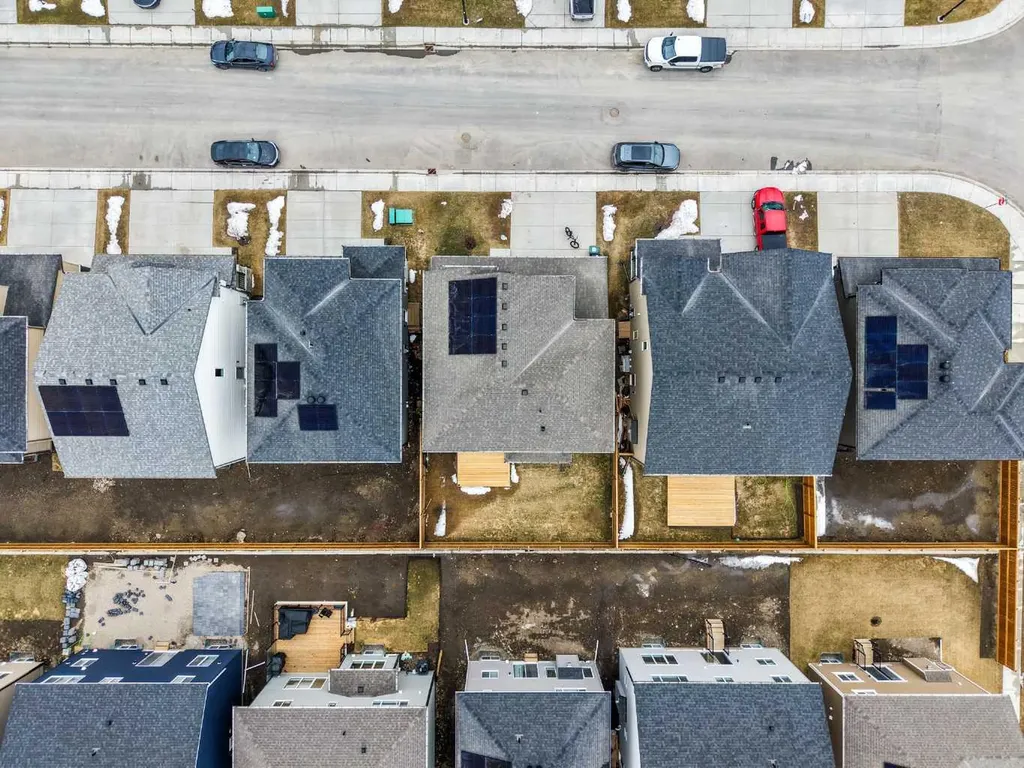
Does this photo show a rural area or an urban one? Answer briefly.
urban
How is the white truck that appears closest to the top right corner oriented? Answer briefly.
from side to side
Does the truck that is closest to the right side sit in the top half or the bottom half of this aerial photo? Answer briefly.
top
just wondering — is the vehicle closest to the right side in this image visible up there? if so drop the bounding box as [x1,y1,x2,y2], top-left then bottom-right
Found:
[752,185,791,250]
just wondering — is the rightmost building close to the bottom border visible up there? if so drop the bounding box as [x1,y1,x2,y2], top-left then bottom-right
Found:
[808,653,1024,768]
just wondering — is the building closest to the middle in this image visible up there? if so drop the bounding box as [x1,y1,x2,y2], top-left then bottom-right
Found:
[422,255,616,467]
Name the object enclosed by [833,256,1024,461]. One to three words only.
house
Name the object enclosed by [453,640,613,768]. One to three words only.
house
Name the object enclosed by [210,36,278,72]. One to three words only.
car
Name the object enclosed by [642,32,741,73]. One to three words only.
truck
